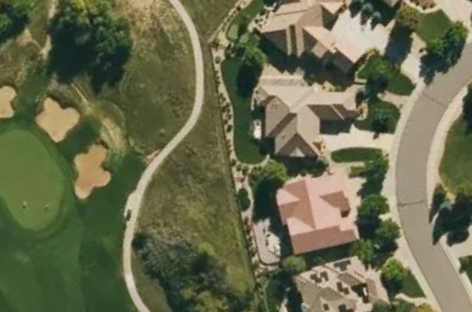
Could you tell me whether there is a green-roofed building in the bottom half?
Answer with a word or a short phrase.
No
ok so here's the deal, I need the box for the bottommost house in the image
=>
[296,256,391,312]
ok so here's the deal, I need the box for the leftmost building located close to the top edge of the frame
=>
[257,0,370,71]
